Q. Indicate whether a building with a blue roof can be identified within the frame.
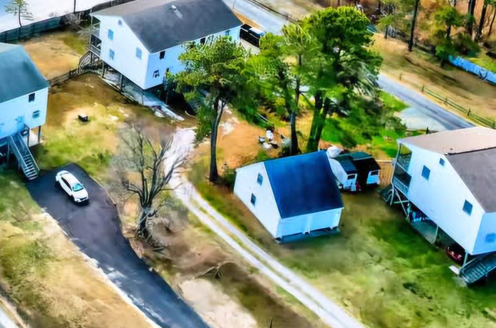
Yes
